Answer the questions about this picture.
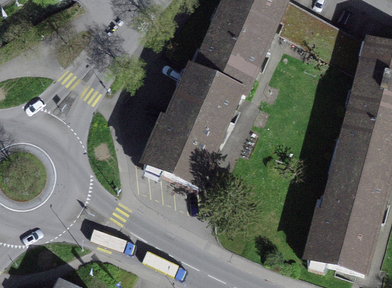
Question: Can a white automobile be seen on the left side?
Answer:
Yes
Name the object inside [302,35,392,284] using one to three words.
building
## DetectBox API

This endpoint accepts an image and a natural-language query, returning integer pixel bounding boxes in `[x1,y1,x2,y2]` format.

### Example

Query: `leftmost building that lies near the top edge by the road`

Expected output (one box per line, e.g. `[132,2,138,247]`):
[190,0,290,92]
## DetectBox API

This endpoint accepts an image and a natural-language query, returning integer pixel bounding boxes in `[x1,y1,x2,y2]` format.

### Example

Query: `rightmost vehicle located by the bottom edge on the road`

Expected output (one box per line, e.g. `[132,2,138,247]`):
[144,252,188,282]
